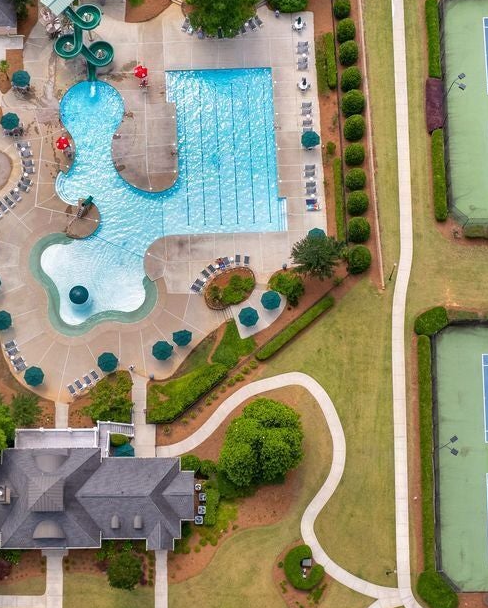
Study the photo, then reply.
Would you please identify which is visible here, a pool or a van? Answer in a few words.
pool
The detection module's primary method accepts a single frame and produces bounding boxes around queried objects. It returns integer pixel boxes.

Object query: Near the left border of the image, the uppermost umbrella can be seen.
[12,68,32,87]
